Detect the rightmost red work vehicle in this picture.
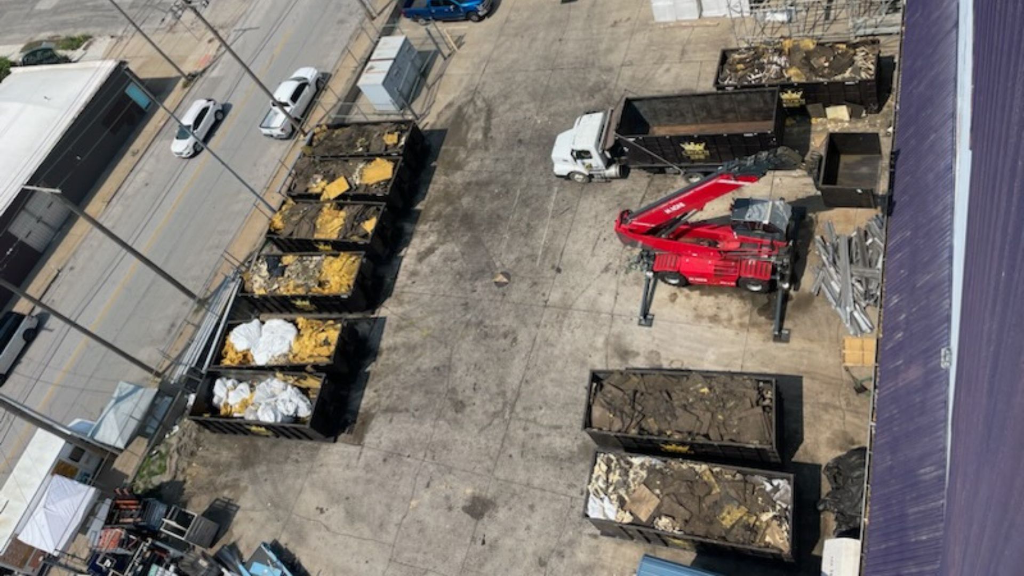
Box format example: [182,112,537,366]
[608,146,804,344]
